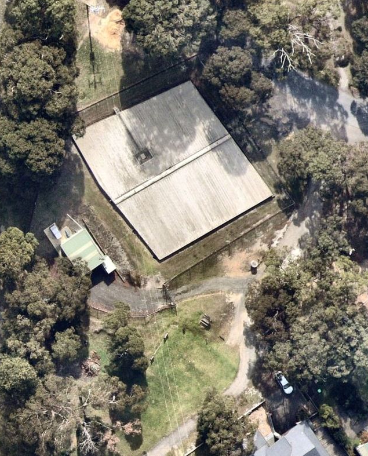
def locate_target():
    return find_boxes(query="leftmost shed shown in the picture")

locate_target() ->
[61,229,105,270]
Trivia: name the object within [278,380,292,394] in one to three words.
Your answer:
vehicle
